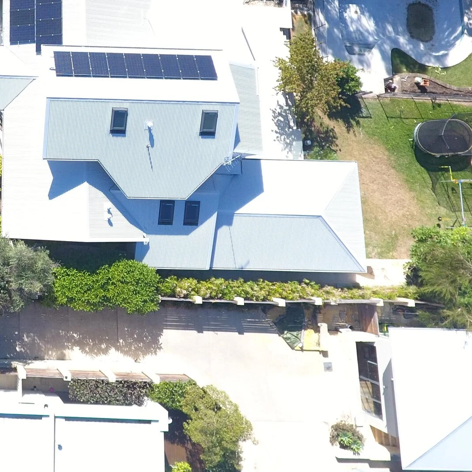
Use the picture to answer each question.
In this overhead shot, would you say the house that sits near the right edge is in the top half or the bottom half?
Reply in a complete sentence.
The house that sits near the right edge sits in the bottom half of the picture.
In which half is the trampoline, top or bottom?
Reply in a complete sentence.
The top half of the photo is where the trampoline is.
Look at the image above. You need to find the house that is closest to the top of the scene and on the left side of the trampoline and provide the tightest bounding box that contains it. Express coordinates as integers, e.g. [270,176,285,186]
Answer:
[0,0,368,275]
